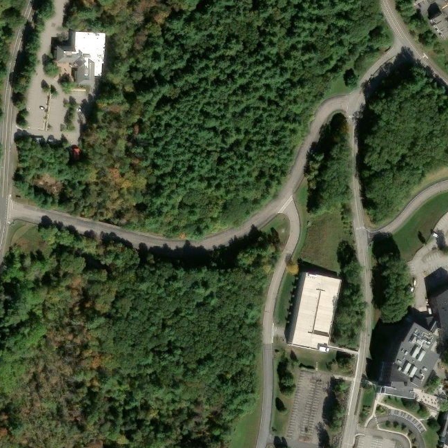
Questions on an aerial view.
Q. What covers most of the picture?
trees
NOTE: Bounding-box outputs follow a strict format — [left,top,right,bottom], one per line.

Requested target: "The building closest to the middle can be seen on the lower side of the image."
[287,272,342,351]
